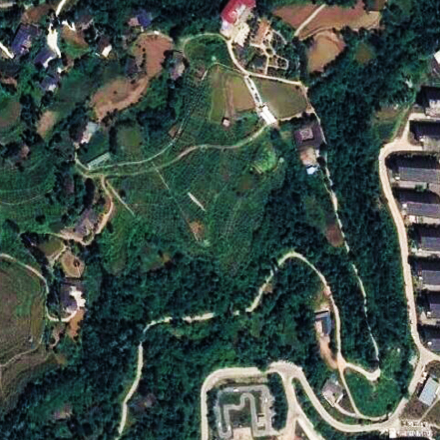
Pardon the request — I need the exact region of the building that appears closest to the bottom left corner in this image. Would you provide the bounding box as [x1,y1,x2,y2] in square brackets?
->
[61,284,78,312]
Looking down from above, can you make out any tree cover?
Yes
